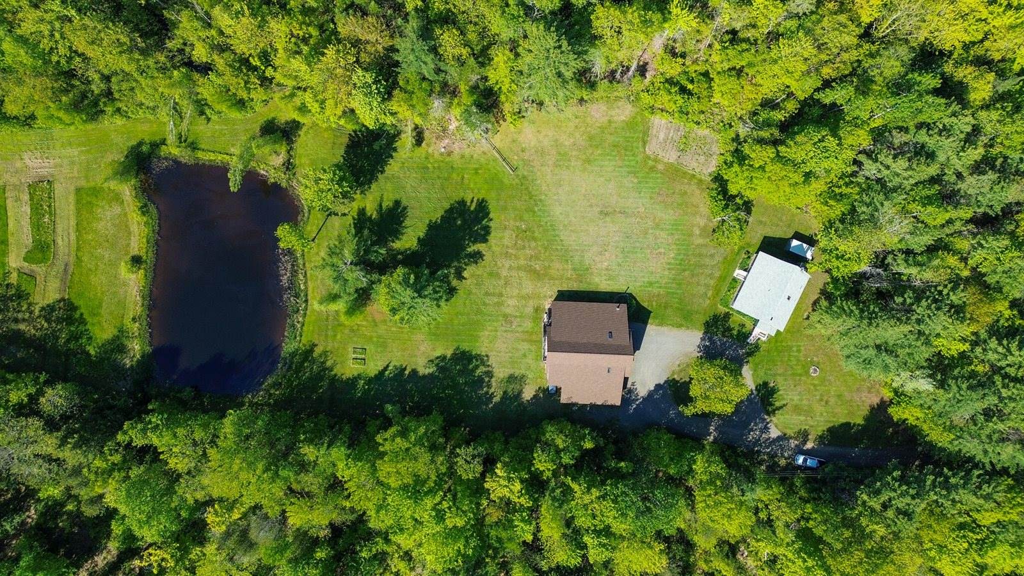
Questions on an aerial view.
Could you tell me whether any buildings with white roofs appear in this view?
Yes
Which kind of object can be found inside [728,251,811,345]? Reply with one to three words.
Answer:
house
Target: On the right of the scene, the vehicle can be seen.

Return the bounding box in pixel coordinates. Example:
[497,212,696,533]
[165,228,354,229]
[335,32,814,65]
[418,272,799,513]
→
[792,452,826,469]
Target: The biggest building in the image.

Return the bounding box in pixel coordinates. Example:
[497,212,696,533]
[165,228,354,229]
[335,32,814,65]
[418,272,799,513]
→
[540,298,634,407]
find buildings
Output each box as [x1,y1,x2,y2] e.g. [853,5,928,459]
[540,298,634,407]
[728,251,811,345]
[784,240,808,258]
